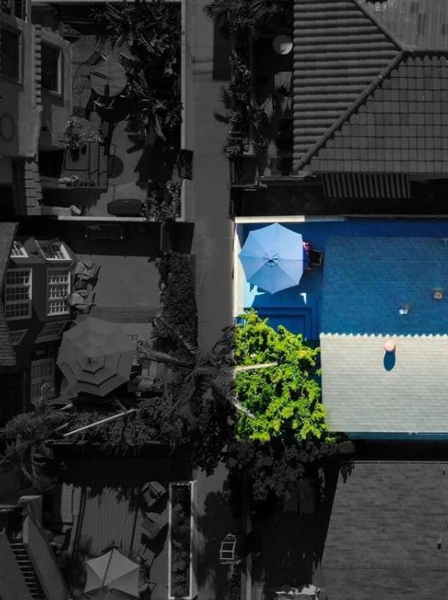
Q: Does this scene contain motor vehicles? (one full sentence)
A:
No, no motor vehicle can be seen from above.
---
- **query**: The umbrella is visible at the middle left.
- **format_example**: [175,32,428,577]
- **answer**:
[58,316,139,398]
